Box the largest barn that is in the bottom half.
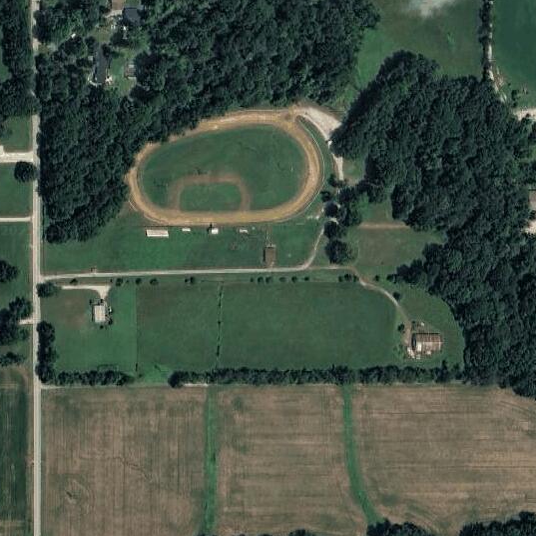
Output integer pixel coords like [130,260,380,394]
[412,334,441,353]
